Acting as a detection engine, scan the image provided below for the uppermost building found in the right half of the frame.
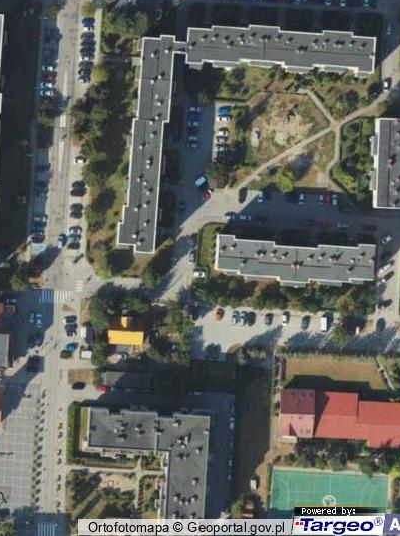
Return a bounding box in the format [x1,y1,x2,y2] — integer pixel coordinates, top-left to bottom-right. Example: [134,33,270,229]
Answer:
[185,25,375,79]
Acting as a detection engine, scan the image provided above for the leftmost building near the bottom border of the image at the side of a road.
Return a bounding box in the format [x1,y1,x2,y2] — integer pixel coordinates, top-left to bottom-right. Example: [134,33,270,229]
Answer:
[83,406,210,536]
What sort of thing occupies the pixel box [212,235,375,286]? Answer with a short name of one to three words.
building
